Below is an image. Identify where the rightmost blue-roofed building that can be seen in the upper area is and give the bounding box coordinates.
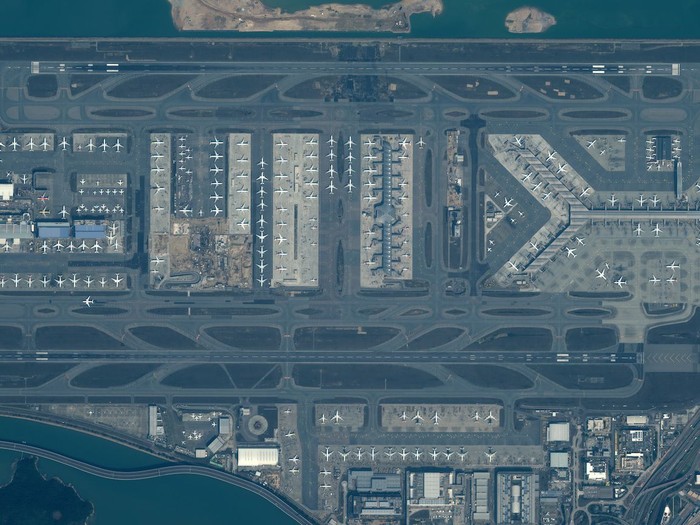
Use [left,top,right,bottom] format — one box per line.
[657,136,671,159]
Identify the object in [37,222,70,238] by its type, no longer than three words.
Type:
hangar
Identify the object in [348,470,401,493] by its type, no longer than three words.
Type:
building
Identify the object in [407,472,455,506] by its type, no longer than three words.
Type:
building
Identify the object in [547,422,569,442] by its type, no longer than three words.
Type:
hangar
